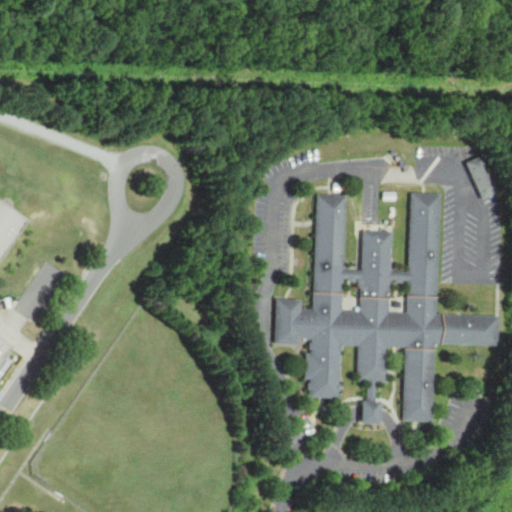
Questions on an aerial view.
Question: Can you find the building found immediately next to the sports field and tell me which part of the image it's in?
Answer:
right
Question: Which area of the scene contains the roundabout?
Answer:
left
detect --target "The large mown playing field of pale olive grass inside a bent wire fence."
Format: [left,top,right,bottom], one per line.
[30,308,233,512]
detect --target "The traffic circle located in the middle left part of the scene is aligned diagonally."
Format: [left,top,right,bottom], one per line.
[0,146,185,426]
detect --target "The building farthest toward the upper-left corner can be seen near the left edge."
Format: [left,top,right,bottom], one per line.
[0,198,28,262]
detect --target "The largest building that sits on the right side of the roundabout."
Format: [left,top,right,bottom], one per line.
[275,194,500,424]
